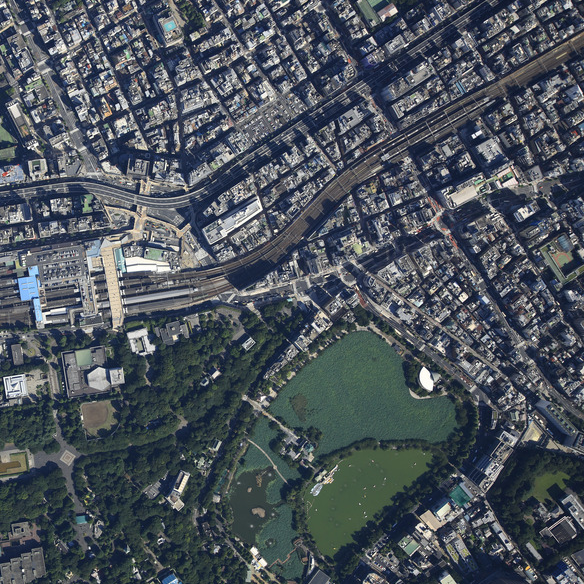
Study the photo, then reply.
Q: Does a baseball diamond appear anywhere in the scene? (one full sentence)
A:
Yes, there is a baseball diamond in the image.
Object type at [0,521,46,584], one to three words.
building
